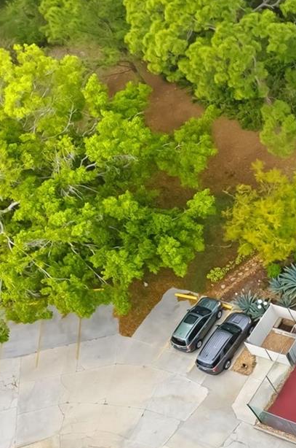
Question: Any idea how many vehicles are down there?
2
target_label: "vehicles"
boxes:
[192,310,255,375]
[166,295,224,355]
